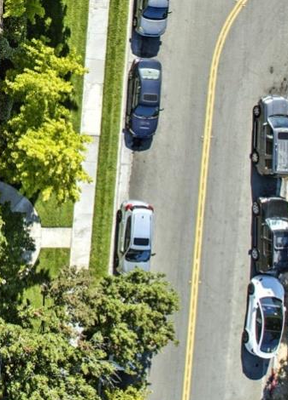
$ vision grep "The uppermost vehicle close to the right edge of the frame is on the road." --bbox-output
[246,96,288,175]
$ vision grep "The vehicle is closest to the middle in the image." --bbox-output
[112,199,152,269]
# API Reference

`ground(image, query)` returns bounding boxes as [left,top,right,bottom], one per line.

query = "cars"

[236,274,281,356]
[122,57,163,137]
[130,0,170,38]
[112,199,152,269]
[244,195,288,269]
[246,96,288,175]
